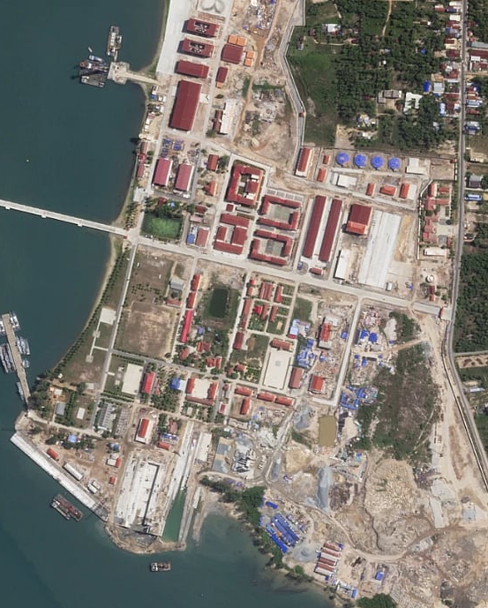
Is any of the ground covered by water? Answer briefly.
Yes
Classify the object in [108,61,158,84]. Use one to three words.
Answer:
pier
